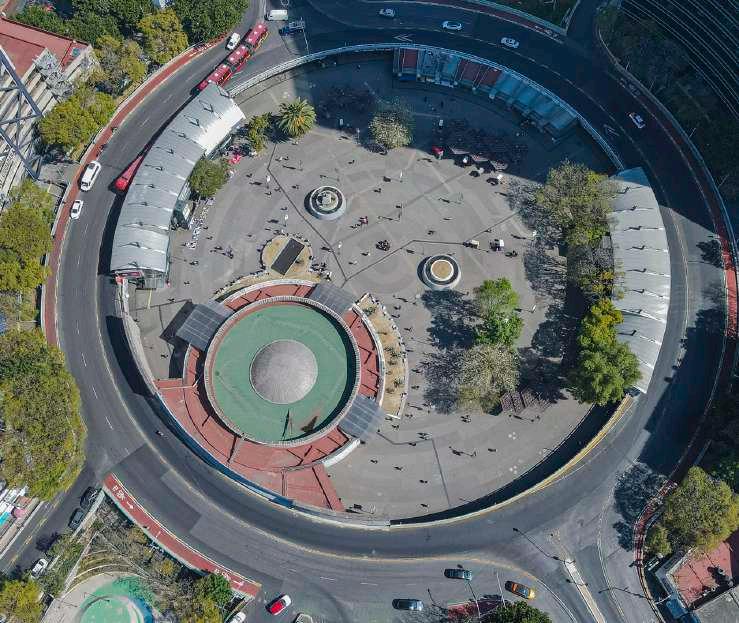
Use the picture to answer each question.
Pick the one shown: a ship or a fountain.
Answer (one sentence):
The image shows a fountain.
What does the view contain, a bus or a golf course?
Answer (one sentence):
Of the two, only a bus appears.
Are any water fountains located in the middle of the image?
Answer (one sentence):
Yes, there is a water fountain in the middle of the image.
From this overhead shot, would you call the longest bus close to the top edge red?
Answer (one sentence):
Yes, the longest bus close to the top edge is indeed red.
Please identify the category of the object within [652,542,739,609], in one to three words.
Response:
building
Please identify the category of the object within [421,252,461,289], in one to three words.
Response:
fountain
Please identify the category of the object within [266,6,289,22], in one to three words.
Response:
vehicle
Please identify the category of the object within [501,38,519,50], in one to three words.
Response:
vehicle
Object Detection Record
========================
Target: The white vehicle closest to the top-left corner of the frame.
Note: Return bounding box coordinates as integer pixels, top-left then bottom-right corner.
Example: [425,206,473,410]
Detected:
[83,162,101,187]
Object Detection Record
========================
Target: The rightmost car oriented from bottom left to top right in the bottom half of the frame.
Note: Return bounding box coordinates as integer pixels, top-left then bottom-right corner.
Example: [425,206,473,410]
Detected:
[265,593,292,615]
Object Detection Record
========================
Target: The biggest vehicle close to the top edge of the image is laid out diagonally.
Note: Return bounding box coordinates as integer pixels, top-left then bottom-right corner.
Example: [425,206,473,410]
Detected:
[191,23,271,98]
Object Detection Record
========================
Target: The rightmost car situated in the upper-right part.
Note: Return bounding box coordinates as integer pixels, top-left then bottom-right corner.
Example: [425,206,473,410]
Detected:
[627,113,646,130]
